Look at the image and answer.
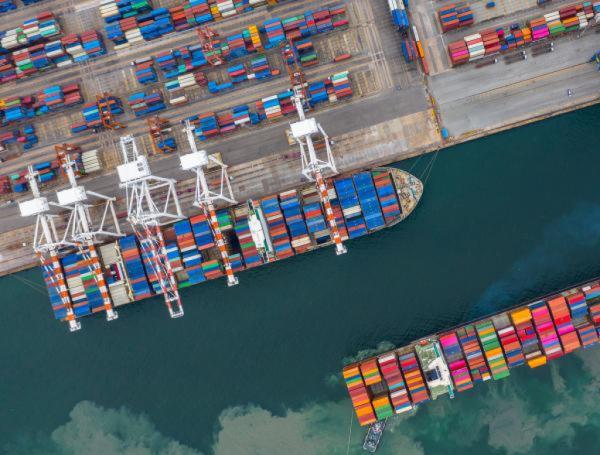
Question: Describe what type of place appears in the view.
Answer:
port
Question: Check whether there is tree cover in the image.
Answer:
No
